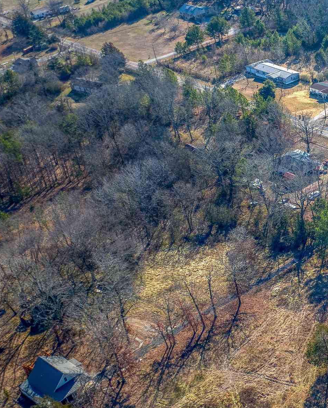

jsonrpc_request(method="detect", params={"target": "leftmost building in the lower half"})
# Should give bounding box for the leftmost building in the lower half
[20,356,103,408]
